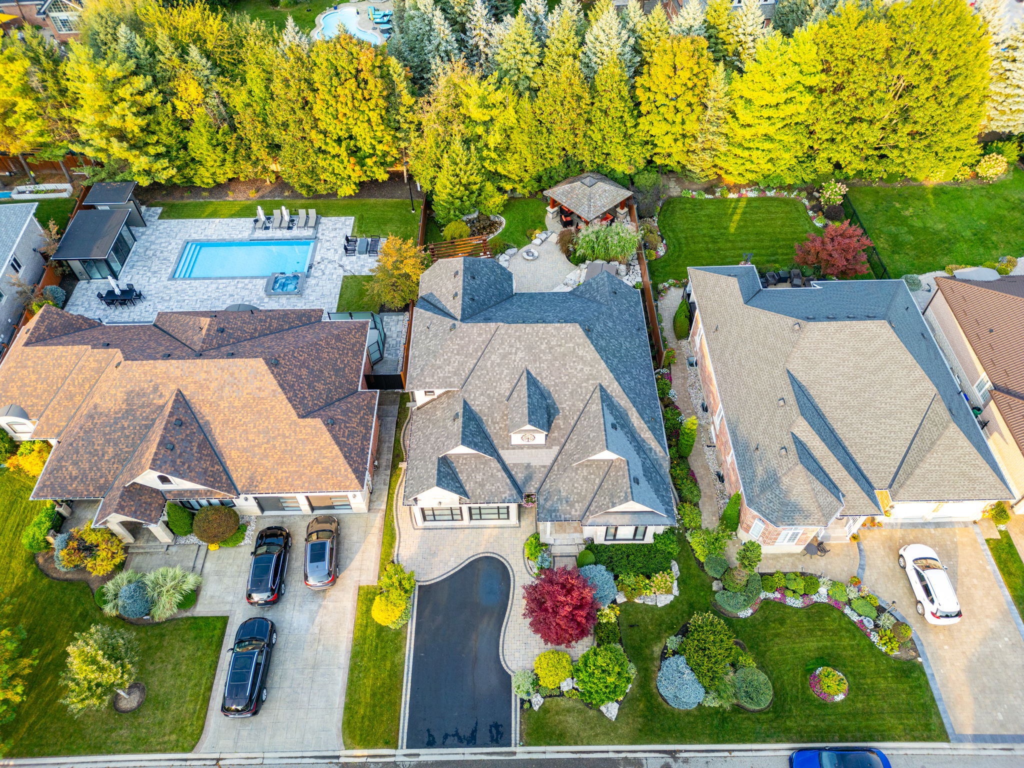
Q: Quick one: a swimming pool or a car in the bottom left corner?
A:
car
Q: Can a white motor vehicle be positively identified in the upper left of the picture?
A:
No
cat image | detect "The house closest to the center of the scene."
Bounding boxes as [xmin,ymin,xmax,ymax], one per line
[401,256,679,543]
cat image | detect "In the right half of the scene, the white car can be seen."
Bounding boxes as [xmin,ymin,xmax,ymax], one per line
[902,548,971,634]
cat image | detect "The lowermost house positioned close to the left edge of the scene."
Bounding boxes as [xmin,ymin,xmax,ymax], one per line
[0,304,381,550]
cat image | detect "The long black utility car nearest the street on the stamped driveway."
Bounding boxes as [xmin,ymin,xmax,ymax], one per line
[217,623,275,727]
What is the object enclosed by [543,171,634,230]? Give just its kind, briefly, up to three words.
gazebo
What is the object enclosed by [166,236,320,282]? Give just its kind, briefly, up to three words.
swimming pool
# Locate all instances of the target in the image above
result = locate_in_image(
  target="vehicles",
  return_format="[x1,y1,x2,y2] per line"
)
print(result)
[241,528,291,613]
[217,623,275,727]
[299,517,340,596]
[793,749,895,768]
[902,548,971,634]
